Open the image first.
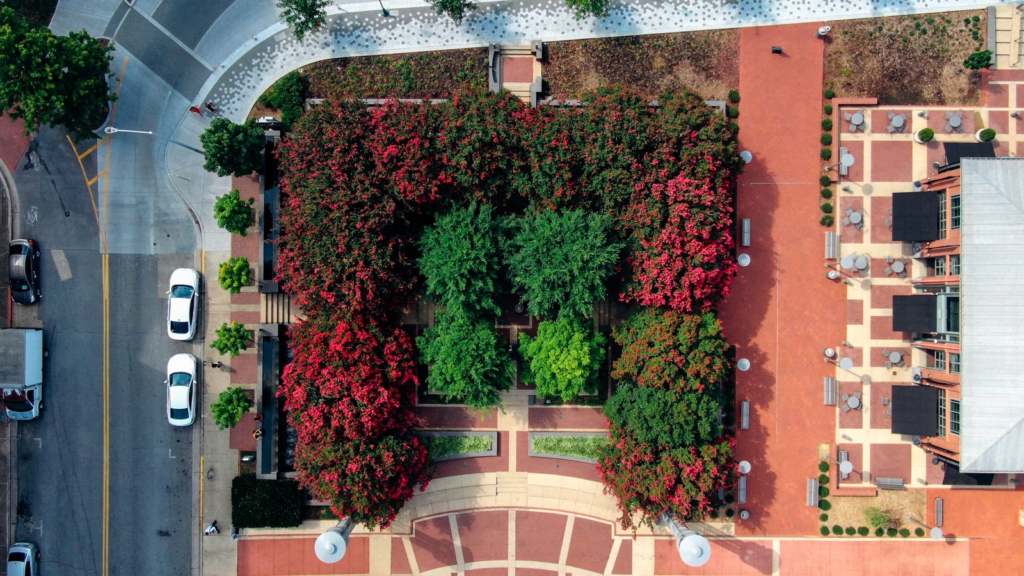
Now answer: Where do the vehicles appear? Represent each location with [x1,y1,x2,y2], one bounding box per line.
[160,354,197,427]
[161,268,198,340]
[1,237,40,304]
[5,544,40,576]
[0,323,51,420]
